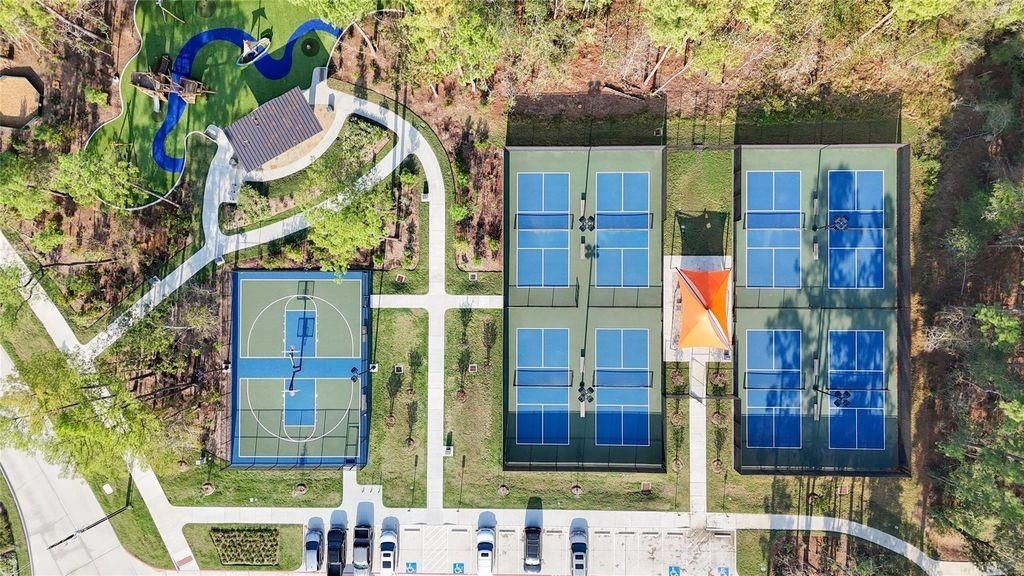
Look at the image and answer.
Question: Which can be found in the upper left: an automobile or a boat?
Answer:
boat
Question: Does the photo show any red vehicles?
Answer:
No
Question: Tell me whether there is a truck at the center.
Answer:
No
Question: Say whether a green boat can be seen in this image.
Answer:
No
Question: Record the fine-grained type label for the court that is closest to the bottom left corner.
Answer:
basketball court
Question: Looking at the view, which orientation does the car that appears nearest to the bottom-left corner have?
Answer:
from top to bottom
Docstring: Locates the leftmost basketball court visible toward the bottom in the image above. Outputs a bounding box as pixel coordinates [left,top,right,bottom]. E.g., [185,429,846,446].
[232,271,370,467]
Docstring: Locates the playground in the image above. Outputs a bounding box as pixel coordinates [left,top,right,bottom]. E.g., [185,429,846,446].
[83,0,412,211]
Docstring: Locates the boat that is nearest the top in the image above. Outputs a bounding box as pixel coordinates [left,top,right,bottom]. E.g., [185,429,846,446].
[238,35,268,61]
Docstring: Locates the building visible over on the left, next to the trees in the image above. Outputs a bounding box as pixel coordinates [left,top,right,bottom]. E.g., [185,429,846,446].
[224,87,335,173]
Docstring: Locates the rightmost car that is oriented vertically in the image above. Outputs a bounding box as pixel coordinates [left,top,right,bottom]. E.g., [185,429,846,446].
[569,533,589,576]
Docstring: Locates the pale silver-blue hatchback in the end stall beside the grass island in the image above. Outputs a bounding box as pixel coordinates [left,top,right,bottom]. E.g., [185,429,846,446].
[302,531,322,573]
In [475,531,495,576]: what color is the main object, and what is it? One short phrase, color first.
white car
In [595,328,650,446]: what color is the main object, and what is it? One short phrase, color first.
blue sports court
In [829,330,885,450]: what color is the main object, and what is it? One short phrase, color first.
blue sports court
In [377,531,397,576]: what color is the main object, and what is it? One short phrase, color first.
white car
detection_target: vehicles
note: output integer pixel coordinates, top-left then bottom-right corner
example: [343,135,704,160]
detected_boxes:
[569,533,589,576]
[475,531,495,576]
[325,530,346,576]
[522,529,542,574]
[349,530,371,576]
[377,531,397,576]
[302,531,322,573]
